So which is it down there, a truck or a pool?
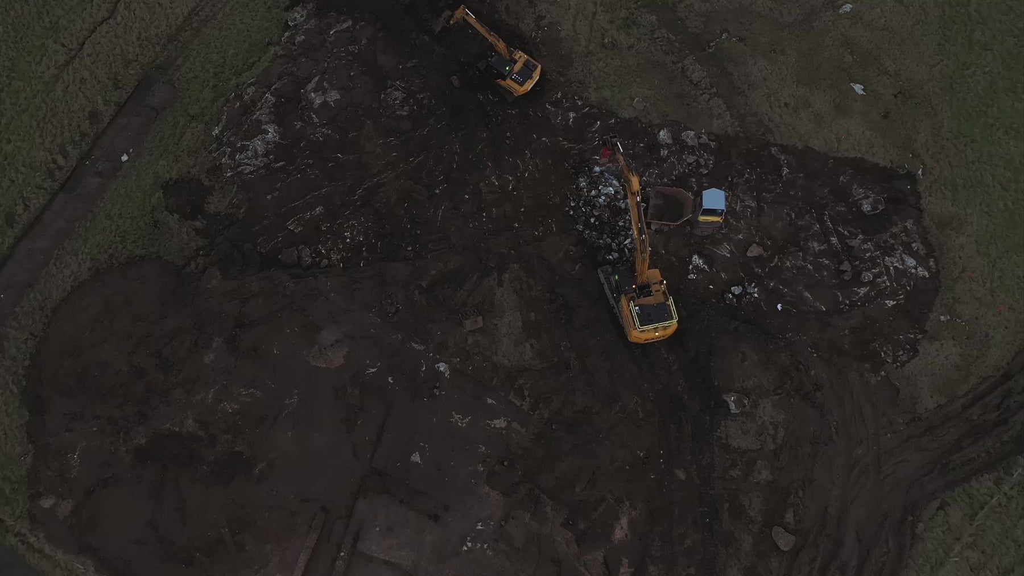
truck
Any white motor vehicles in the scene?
No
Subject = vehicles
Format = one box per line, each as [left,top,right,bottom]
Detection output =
[646,188,728,237]
[597,132,680,344]
[431,0,544,104]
